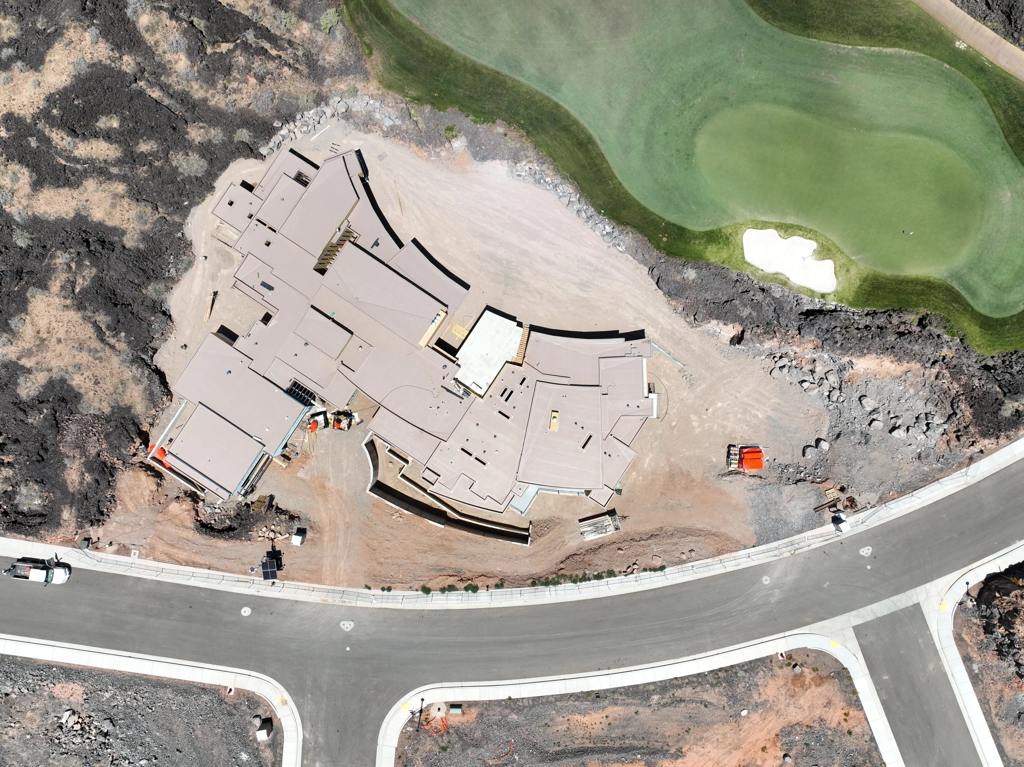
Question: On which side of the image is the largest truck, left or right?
left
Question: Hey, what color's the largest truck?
white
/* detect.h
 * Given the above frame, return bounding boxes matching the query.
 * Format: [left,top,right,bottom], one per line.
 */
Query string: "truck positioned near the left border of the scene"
[1,557,72,591]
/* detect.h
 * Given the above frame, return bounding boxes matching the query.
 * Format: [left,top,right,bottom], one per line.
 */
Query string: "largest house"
[166,148,657,513]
